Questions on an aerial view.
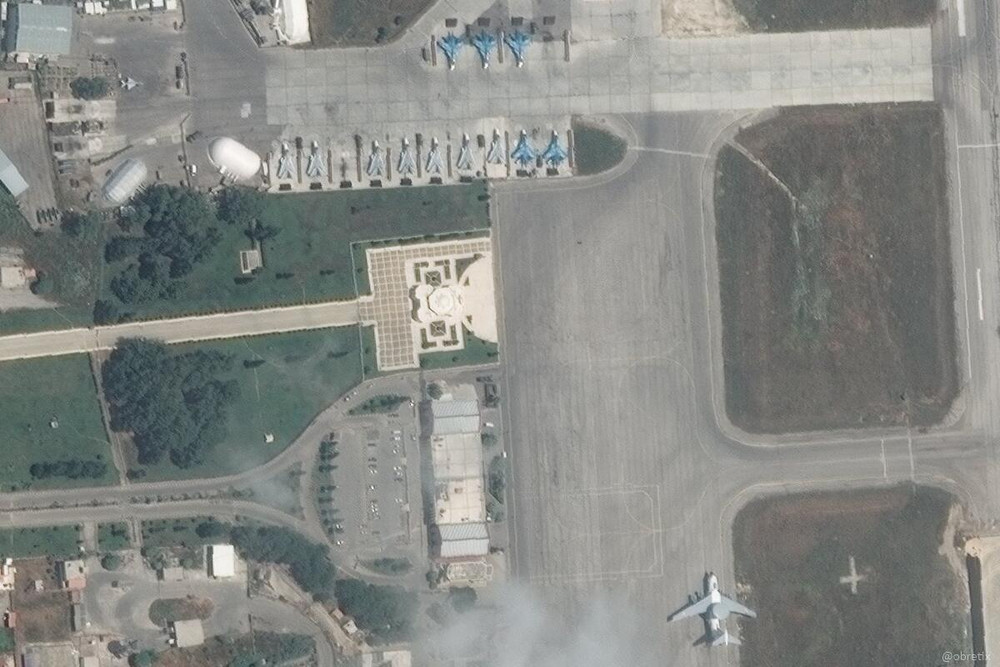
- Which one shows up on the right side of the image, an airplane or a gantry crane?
airplane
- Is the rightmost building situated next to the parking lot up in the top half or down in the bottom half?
bottom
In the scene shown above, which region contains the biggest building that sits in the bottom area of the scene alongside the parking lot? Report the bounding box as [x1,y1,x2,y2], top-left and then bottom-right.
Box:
[425,399,490,558]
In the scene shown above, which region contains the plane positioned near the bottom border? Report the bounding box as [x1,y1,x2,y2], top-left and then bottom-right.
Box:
[675,572,758,646]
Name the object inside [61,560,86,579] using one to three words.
house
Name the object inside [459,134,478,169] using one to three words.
airplane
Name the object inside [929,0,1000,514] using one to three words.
runway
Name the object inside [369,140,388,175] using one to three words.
airplane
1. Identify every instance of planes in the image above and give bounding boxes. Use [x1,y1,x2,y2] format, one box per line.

[543,132,566,167]
[398,138,417,173]
[472,30,497,69]
[675,572,758,646]
[504,29,529,67]
[459,134,478,169]
[490,129,508,164]
[429,137,446,172]
[278,143,297,178]
[369,140,388,175]
[513,132,537,167]
[308,141,326,176]
[438,31,464,70]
